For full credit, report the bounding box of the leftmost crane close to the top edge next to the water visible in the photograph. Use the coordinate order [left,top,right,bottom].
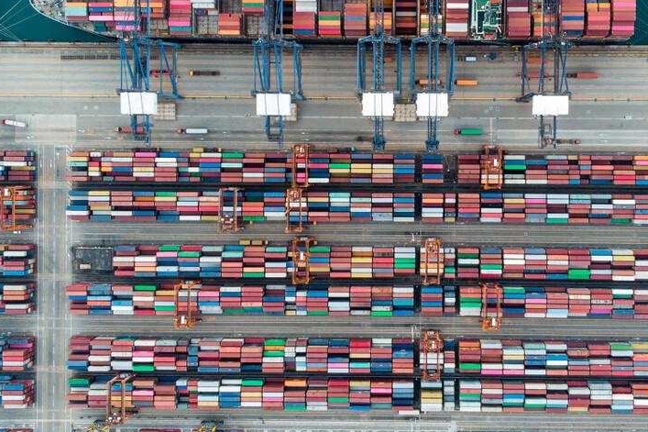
[118,0,184,143]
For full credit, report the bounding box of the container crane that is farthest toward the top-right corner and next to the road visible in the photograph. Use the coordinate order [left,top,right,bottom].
[519,0,572,146]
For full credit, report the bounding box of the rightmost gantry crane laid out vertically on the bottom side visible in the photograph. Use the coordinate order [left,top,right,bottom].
[477,276,501,331]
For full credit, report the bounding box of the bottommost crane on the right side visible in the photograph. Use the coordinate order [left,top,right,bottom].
[420,323,442,380]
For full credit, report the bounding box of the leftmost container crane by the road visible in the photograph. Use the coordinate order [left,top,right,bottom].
[0,182,34,232]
